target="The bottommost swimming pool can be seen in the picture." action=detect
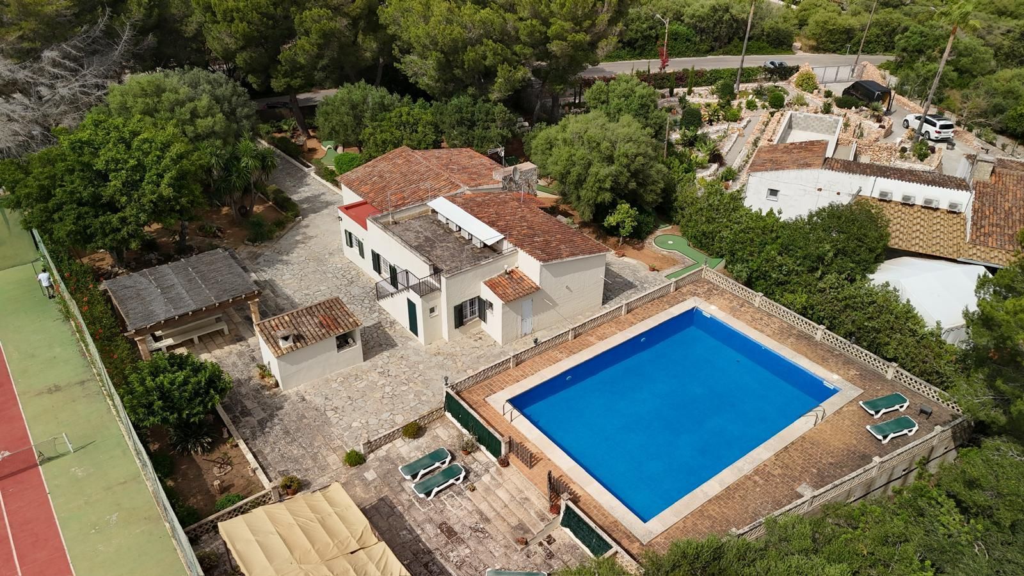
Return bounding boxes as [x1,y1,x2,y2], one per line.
[484,296,864,539]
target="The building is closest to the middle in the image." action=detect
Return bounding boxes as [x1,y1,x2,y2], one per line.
[337,144,617,345]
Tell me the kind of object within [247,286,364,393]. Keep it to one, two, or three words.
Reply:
shed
